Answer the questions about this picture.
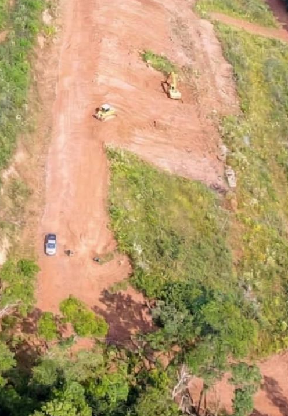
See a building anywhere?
No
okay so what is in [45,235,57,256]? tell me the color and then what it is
white vehicle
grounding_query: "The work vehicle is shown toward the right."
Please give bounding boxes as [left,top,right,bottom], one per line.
[164,68,184,103]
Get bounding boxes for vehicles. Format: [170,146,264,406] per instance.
[164,68,184,103]
[45,235,57,256]
[89,102,117,124]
